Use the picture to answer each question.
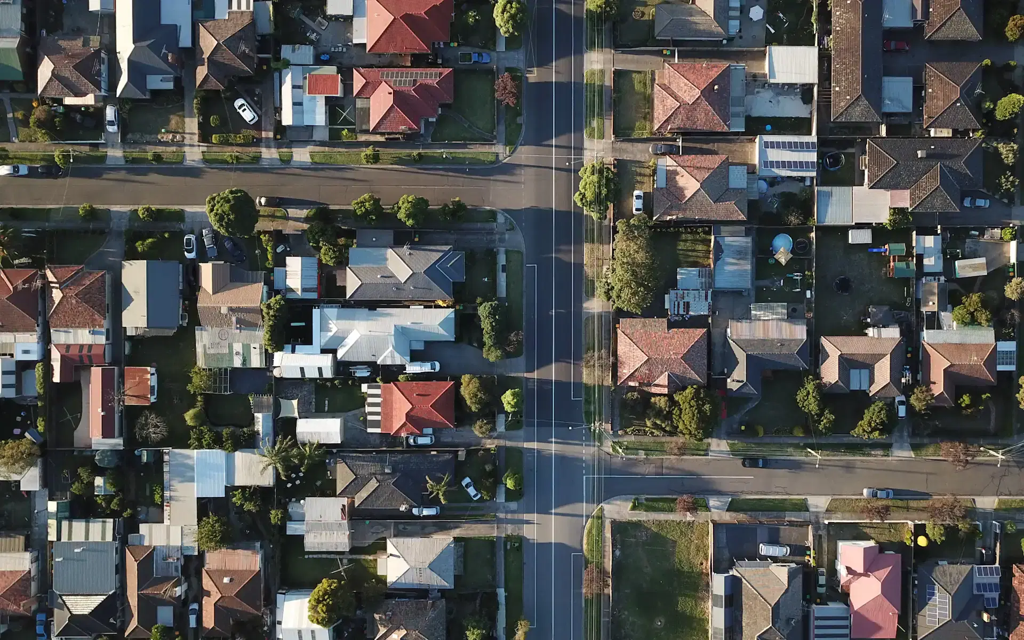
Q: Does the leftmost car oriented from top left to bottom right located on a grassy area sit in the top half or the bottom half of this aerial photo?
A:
top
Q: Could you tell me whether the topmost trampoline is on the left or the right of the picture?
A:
right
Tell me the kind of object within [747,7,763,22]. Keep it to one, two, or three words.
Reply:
umbrella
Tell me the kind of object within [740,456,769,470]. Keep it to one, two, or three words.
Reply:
car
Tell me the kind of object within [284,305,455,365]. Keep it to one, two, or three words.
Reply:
house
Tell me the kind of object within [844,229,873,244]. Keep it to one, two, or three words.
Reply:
shed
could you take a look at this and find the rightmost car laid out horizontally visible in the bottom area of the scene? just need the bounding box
[862,486,892,499]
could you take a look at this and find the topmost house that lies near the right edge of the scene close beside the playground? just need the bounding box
[812,138,983,226]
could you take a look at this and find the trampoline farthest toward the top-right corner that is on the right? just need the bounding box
[824,148,847,170]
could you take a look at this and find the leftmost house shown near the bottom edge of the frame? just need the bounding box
[0,531,40,617]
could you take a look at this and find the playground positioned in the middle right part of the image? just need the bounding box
[868,244,917,277]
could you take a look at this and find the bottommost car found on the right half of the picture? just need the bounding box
[814,566,828,593]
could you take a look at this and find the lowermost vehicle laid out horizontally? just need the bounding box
[758,542,790,558]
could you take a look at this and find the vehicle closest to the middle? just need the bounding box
[407,361,440,376]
